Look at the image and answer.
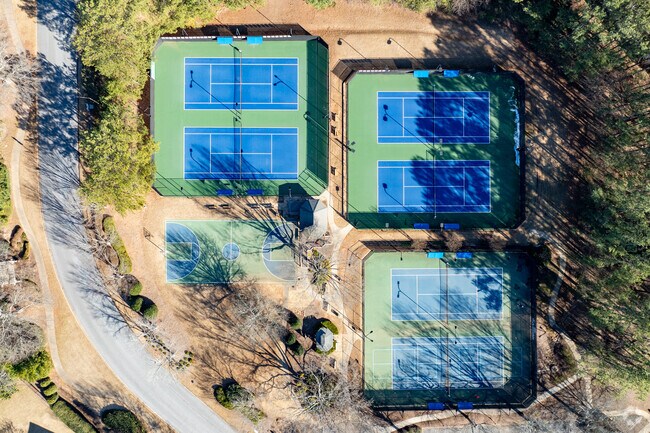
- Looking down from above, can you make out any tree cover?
Yes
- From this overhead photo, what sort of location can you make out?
sports ground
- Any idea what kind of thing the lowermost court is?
tennis court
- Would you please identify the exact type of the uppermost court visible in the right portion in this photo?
tennis court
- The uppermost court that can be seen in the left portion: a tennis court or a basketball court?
tennis court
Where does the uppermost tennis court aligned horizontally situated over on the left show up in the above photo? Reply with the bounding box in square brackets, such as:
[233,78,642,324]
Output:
[154,41,328,118]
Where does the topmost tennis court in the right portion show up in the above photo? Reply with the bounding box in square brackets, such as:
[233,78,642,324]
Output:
[347,72,520,152]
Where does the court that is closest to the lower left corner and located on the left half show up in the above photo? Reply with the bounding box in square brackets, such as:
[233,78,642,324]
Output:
[166,220,296,283]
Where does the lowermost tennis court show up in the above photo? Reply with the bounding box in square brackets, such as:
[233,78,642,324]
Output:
[365,329,531,403]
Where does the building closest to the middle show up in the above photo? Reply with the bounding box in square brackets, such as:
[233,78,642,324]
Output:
[300,200,327,239]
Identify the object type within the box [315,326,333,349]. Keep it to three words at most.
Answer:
gazebo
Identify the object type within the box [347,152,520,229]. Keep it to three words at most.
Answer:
tennis court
